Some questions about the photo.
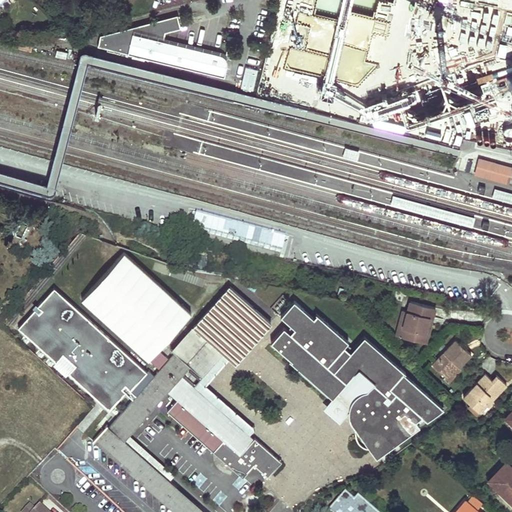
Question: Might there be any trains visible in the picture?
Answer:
Yes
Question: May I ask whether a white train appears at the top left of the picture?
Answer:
No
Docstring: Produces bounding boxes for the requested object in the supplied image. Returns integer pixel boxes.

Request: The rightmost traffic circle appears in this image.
[484,307,512,361]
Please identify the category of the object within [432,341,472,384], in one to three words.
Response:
house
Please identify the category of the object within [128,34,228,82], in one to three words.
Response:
building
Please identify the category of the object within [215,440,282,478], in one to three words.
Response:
building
